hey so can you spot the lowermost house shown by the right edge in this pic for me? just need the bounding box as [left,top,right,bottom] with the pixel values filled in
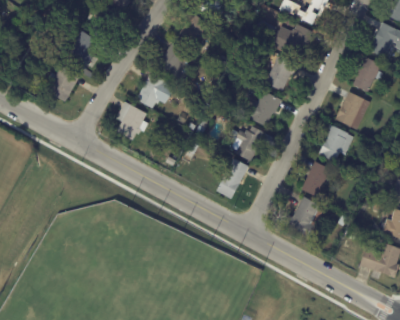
[361,245,400,279]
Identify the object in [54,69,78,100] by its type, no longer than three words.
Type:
house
